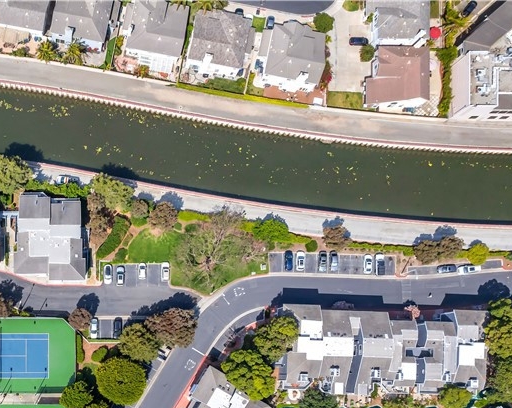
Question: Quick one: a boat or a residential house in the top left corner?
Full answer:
Visible in the top left corner is a residential house.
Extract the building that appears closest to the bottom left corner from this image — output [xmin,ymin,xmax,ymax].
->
[13,192,86,283]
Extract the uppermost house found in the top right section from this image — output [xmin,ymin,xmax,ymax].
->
[356,0,430,51]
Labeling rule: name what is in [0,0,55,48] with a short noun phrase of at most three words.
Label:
house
